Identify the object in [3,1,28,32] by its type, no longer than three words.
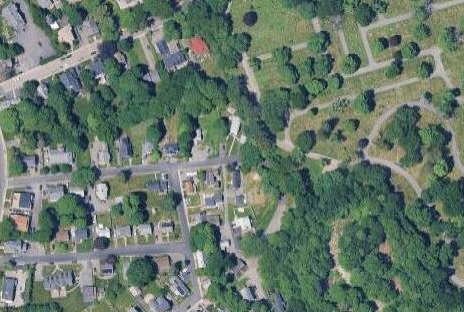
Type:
house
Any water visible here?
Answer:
No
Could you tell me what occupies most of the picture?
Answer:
trees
